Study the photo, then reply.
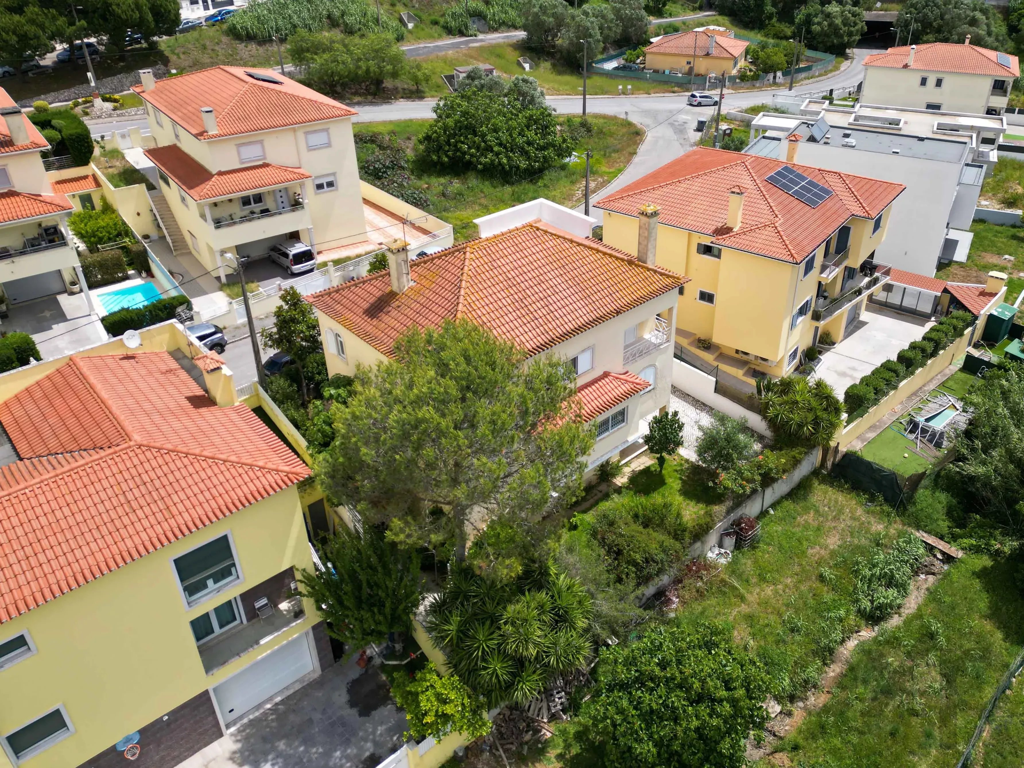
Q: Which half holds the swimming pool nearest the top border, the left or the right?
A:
left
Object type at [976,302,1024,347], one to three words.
shed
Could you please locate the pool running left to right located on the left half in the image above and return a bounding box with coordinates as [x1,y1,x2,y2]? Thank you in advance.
[94,277,169,317]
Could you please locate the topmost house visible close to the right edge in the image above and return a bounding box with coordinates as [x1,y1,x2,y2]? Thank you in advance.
[859,25,1023,116]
